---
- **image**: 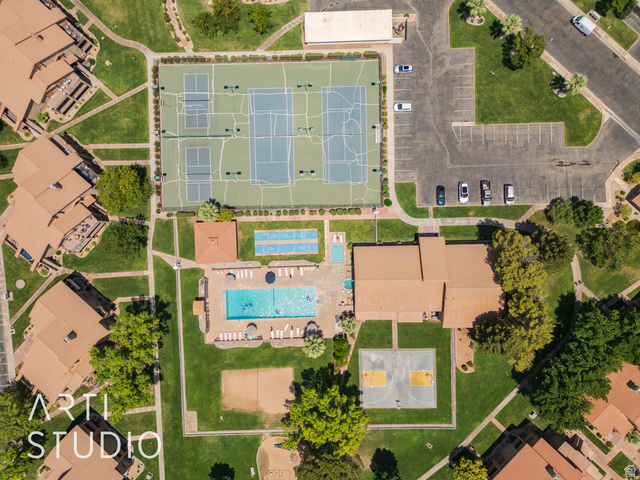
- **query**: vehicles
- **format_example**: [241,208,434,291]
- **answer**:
[436,186,446,206]
[394,64,414,74]
[459,182,468,202]
[481,181,491,206]
[393,102,413,112]
[569,14,600,38]
[504,184,515,204]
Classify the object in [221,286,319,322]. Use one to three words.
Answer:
swimming pool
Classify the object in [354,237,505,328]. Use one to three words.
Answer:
building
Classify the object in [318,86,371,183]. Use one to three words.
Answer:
tennis court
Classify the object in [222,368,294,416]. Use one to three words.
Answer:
sports court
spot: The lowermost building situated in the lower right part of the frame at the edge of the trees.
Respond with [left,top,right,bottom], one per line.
[480,424,604,480]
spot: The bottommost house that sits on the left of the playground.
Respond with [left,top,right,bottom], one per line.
[44,407,138,480]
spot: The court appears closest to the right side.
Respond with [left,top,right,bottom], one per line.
[359,348,437,409]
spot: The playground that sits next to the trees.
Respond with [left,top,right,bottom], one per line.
[257,436,304,480]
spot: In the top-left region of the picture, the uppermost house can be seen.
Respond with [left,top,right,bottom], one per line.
[0,0,99,125]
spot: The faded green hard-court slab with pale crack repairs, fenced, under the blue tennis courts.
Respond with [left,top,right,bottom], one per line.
[160,60,381,211]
